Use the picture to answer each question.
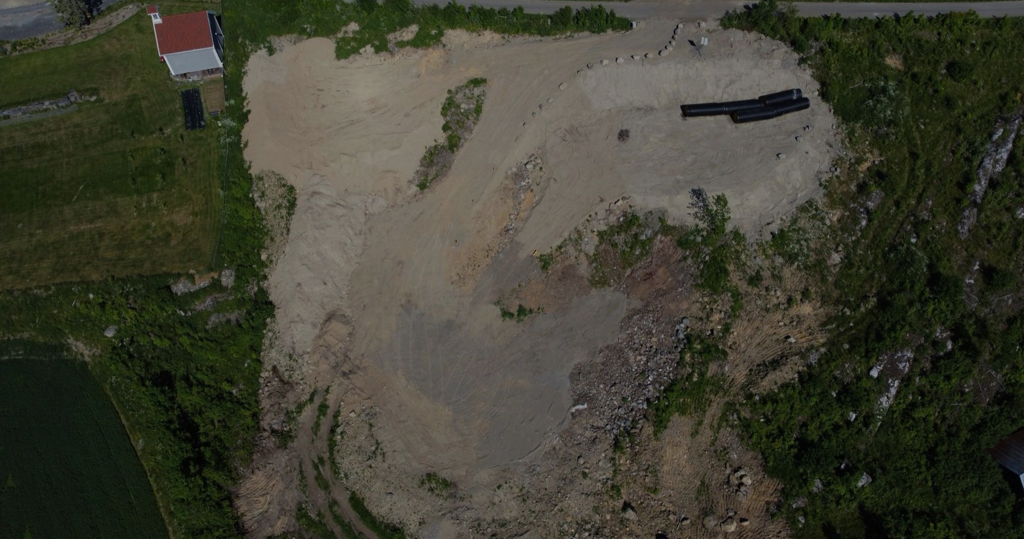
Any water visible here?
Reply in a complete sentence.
No, the picture contains no water.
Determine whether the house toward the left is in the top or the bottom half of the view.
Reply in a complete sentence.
The top half of the photo is where the house toward the left is.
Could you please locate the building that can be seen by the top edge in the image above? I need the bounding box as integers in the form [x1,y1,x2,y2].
[150,0,225,86]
